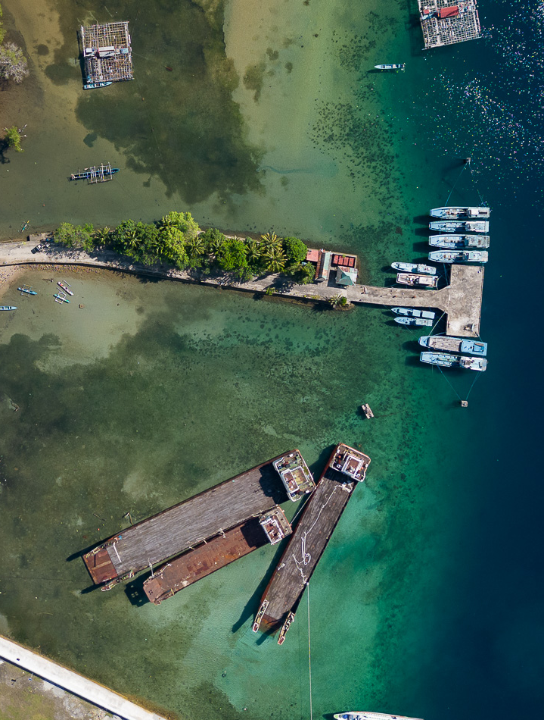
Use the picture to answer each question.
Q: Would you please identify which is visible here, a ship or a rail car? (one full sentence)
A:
The image shows a ship.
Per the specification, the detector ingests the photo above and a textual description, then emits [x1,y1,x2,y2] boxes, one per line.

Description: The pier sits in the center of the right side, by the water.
[347,265,484,338]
